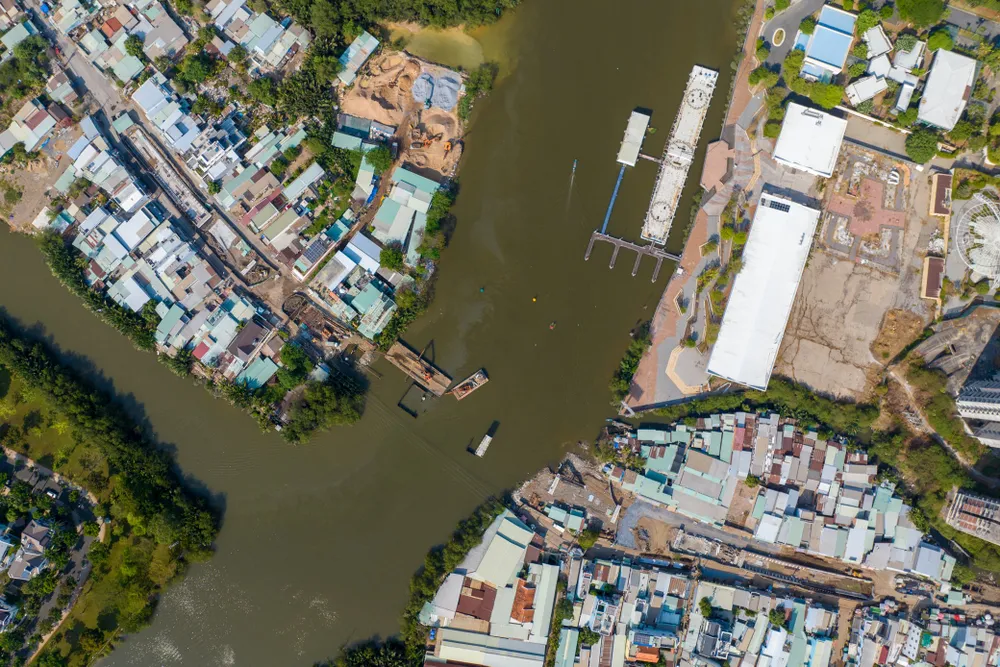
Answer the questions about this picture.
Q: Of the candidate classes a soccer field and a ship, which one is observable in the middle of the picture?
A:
ship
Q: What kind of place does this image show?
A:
residential area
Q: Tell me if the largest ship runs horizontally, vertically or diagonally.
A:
diagonally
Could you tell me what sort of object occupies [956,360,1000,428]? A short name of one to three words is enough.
building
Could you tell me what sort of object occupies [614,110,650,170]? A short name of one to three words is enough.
pier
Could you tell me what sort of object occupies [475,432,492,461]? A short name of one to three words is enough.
ship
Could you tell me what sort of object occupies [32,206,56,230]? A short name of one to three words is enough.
house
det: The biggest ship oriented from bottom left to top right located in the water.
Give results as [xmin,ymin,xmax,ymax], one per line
[449,369,488,400]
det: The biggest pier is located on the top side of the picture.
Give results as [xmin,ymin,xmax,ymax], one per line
[639,65,719,246]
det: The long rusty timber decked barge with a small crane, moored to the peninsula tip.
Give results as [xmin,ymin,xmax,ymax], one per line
[385,343,452,396]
